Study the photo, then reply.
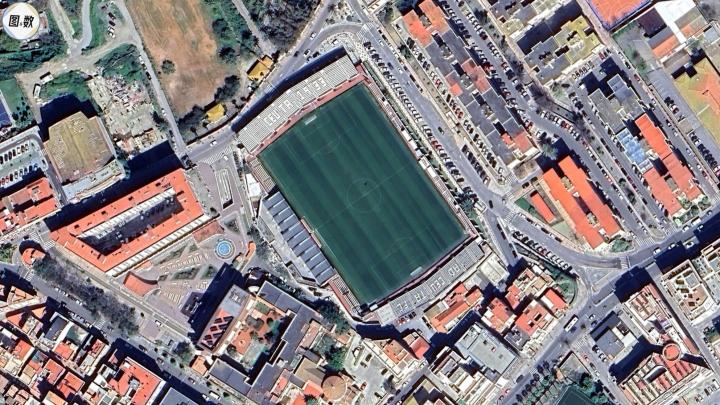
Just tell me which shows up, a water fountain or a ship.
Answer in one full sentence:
It is a water fountain that can be seen here.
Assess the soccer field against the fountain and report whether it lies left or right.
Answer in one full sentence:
You can see the soccer field positioned to the right of the fountain.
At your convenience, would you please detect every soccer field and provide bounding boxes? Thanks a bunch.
[252,73,472,314]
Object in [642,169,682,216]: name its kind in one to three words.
building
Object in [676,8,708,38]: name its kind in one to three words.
shed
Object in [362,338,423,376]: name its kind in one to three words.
house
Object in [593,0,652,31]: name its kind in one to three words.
sports court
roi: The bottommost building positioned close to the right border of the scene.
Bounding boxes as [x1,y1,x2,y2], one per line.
[618,353,702,405]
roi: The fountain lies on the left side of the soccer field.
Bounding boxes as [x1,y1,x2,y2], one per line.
[212,236,236,260]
